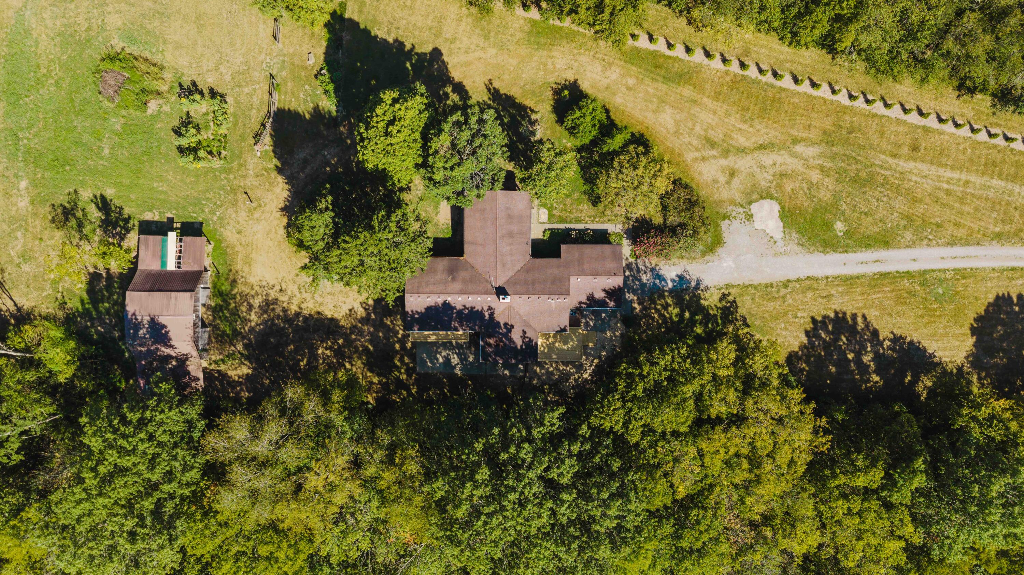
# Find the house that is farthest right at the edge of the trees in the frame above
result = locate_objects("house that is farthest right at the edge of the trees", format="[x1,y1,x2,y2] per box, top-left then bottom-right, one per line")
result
[404,190,623,363]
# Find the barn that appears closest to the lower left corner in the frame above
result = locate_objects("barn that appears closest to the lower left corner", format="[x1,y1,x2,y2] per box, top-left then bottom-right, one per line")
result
[124,230,211,396]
